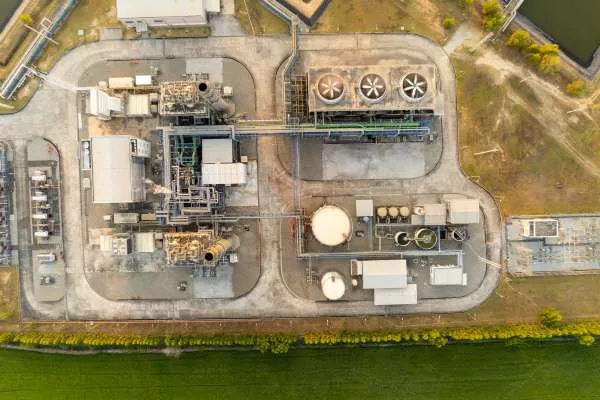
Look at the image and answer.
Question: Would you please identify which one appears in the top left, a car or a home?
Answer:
home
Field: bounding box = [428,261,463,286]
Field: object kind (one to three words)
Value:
building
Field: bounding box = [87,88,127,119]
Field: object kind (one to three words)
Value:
house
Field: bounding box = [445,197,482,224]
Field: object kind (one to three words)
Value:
shed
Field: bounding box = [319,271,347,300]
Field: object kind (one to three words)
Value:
storage tank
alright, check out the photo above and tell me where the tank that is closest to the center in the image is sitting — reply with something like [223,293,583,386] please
[312,203,353,245]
